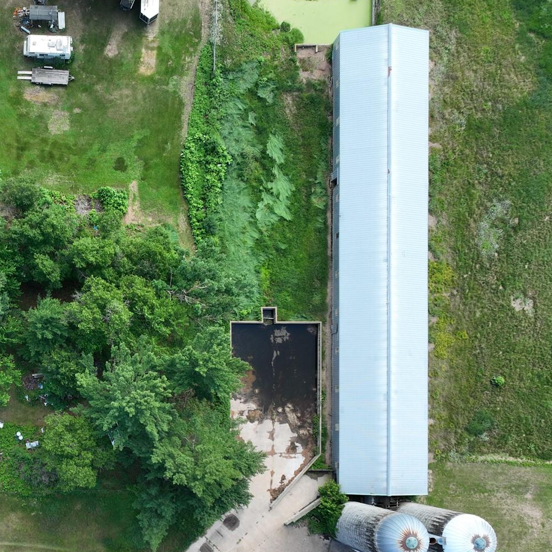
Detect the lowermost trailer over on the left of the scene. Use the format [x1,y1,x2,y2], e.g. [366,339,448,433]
[18,65,74,88]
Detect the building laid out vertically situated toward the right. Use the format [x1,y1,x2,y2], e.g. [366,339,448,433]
[329,24,428,496]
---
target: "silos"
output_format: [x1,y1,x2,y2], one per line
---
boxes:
[336,501,431,552]
[399,501,499,552]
